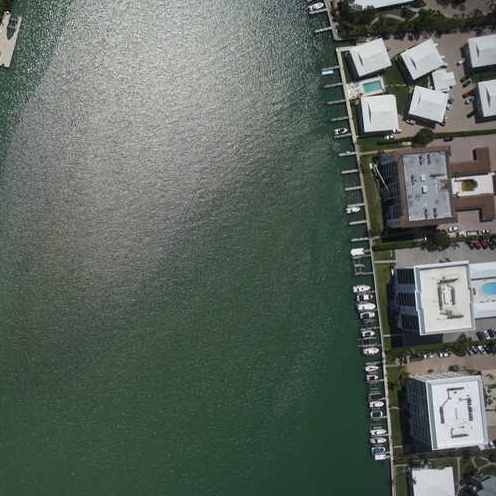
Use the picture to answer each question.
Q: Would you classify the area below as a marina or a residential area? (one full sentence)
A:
It's a marina.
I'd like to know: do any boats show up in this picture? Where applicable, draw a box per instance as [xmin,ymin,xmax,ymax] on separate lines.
[356,303,376,310]
[368,438,386,444]
[345,207,360,212]
[364,366,379,371]
[370,446,386,453]
[364,375,379,380]
[369,411,383,418]
[359,312,375,319]
[307,3,324,10]
[368,401,384,407]
[373,454,390,461]
[362,348,379,355]
[318,69,334,75]
[360,330,375,338]
[356,294,373,300]
[332,127,349,134]
[349,248,364,255]
[368,429,387,435]
[351,285,371,292]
